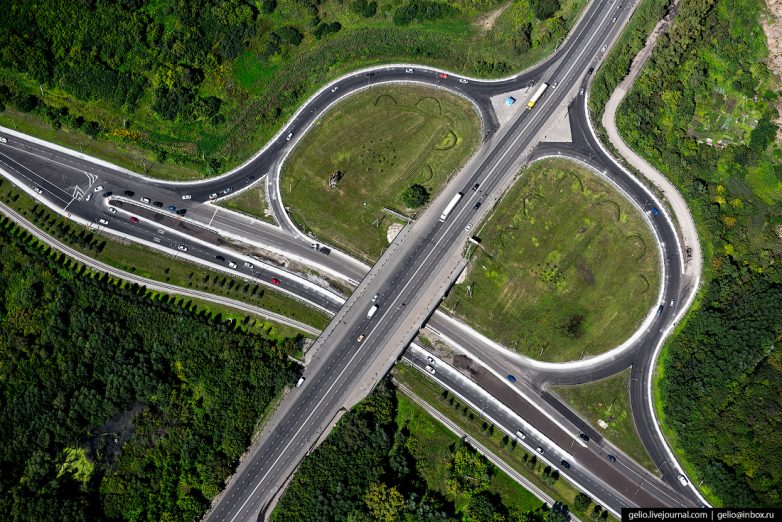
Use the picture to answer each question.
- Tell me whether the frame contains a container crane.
No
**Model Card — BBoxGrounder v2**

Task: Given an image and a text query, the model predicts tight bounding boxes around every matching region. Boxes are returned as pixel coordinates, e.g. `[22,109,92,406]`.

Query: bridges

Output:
[302,214,467,396]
